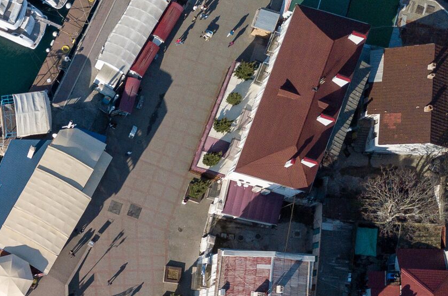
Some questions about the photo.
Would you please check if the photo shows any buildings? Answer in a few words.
Yes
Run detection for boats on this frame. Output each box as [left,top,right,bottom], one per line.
[36,0,68,16]
[0,0,62,50]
